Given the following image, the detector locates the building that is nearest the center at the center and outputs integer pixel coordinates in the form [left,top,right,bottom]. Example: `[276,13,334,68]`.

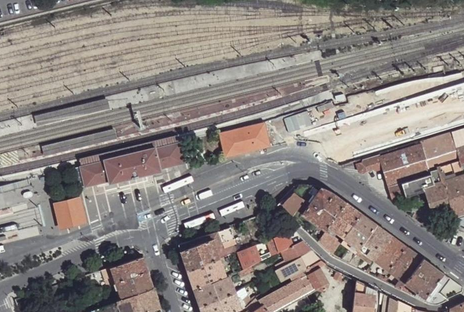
[219,122,272,160]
